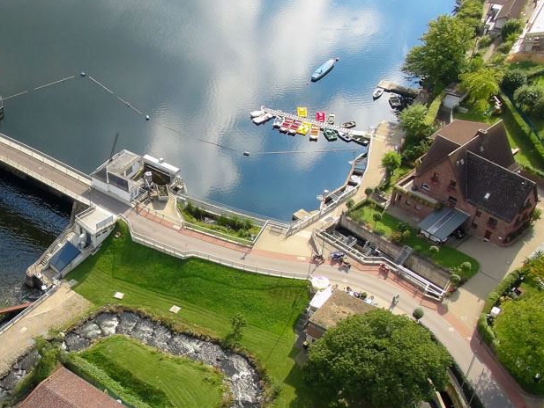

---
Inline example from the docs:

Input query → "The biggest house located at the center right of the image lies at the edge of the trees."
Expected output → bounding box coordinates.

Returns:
[390,120,542,245]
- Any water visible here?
Yes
